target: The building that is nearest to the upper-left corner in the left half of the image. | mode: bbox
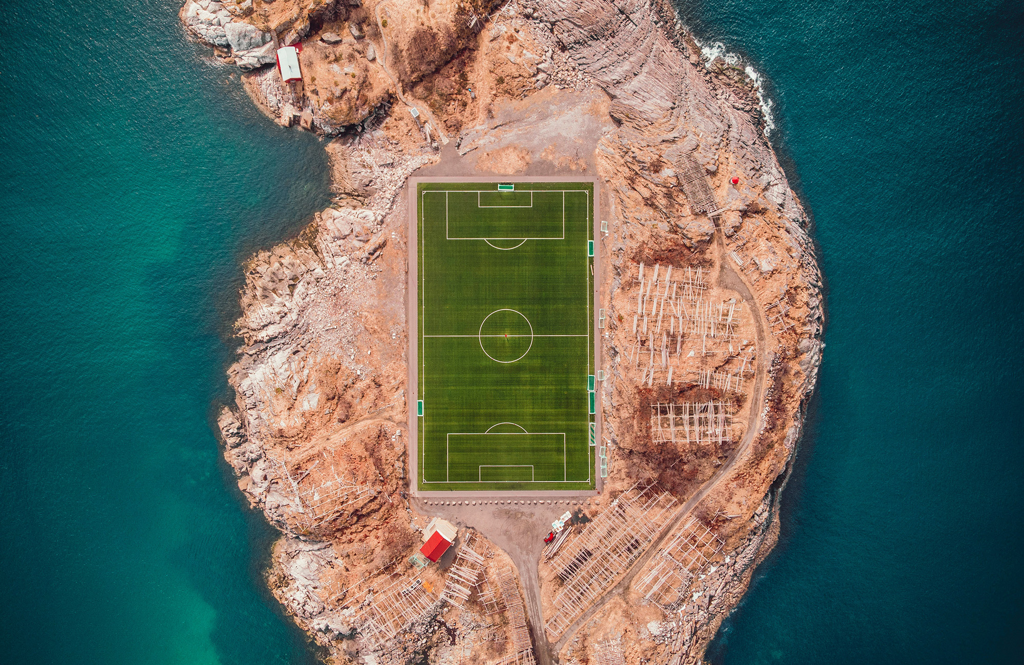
[276,46,302,84]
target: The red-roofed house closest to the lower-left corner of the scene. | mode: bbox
[420,530,451,563]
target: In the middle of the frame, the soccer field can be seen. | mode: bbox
[418,182,595,491]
